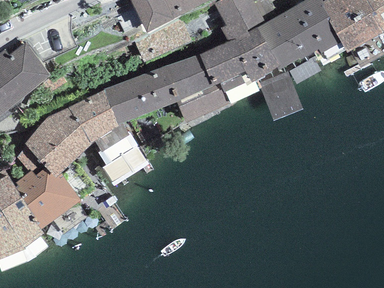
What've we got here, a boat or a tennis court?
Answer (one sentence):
Visible in the photo is a boat.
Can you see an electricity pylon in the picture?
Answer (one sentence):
No, no electricity pylon can be seen from above.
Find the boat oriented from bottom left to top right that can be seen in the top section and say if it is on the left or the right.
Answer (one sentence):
The boat oriented from bottom left to top right that can be seen in the top section appears in the right half of the scene.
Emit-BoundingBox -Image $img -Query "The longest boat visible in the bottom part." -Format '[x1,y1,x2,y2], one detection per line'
[159,240,186,257]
